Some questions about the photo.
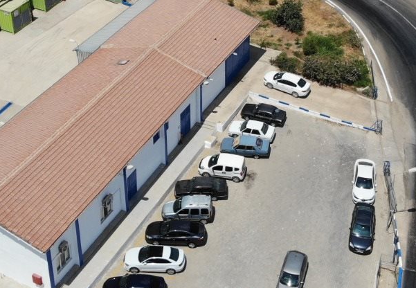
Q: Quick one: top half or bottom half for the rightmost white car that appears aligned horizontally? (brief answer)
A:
top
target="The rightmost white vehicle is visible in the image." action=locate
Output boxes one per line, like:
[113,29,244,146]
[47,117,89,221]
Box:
[352,159,378,206]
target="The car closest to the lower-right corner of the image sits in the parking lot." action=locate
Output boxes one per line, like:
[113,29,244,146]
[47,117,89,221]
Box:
[349,202,378,254]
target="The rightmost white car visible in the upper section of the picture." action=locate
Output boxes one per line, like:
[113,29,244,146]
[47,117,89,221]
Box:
[263,73,313,99]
